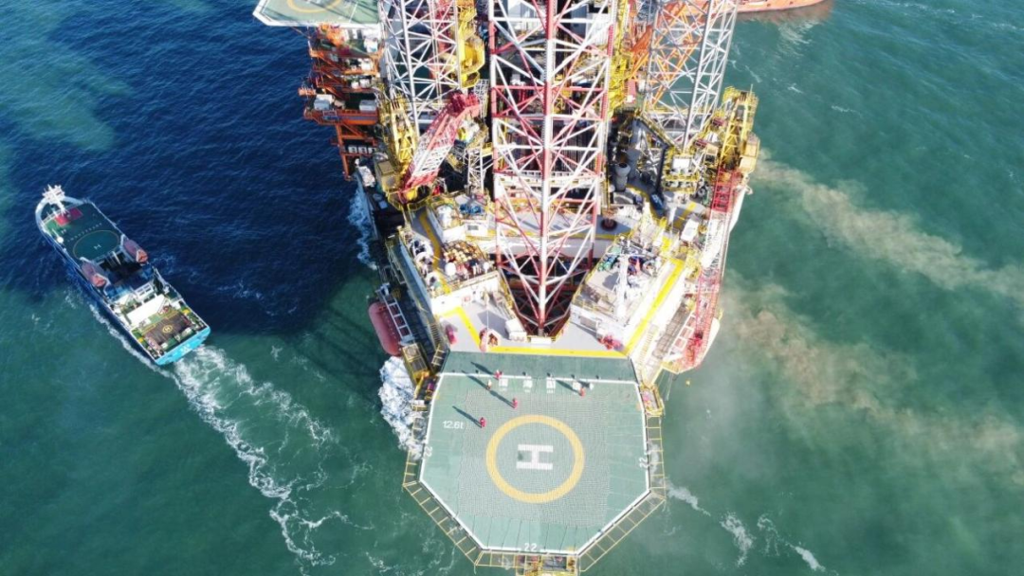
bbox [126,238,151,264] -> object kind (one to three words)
boat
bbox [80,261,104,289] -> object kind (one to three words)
boat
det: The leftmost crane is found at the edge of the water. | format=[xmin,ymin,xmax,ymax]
[371,86,489,235]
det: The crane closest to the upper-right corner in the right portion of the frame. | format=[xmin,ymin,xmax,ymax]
[670,78,770,376]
